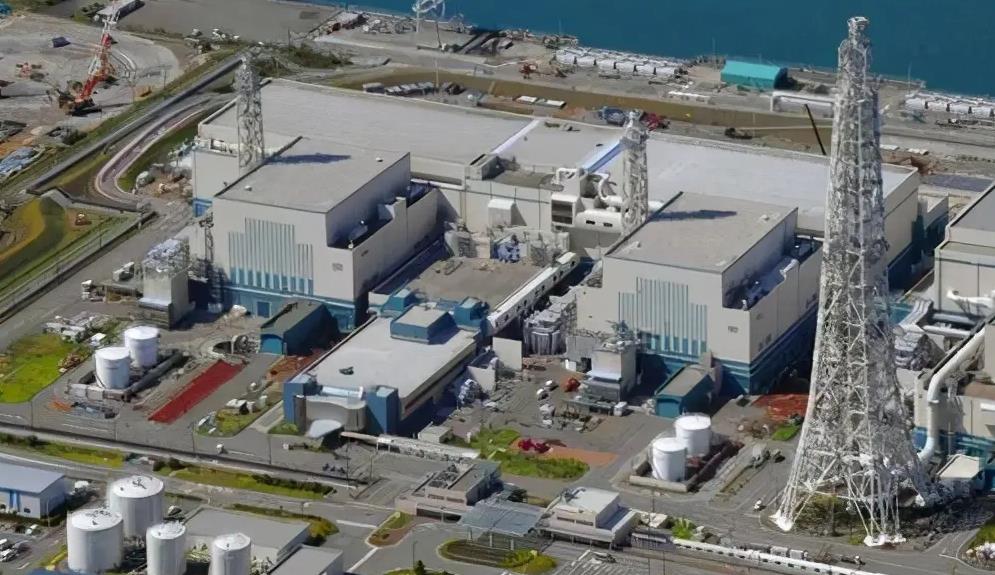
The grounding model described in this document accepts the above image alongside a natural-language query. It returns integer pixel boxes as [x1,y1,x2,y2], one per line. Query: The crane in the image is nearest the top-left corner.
[51,0,126,109]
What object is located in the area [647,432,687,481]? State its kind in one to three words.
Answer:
storage tank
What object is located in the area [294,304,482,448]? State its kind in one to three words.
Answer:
building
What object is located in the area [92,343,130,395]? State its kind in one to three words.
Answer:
storage tank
